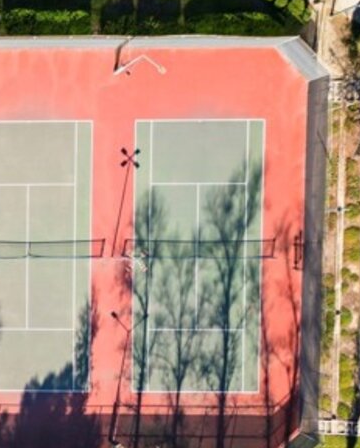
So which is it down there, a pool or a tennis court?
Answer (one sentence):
Looking from above, you can make out a tennis court.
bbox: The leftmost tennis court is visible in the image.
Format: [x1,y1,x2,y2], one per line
[0,120,92,391]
